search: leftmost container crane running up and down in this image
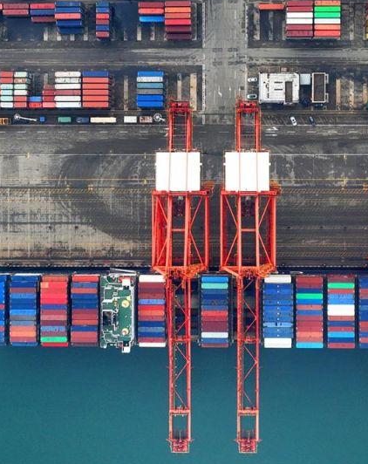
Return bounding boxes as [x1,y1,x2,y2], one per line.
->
[149,101,217,453]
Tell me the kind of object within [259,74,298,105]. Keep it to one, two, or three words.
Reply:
building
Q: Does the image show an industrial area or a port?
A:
port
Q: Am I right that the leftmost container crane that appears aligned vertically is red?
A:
Yes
